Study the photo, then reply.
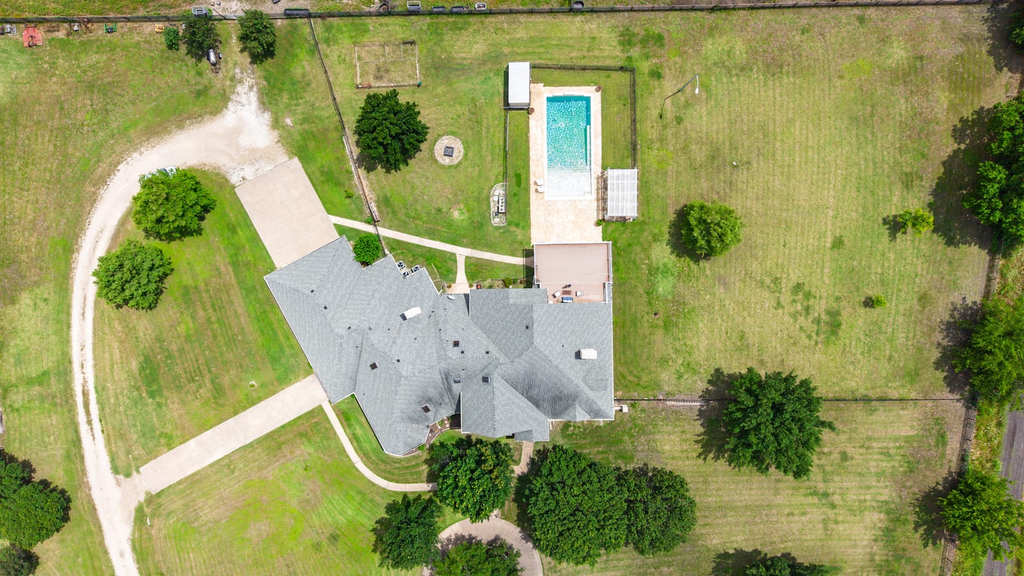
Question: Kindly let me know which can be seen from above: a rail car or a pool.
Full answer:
Looking from above, you can make out a pool.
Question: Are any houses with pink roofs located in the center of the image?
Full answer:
No, in the center of the image there is no house with a pink roof.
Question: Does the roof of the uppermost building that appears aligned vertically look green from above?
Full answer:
No, the roof of the uppermost building that appears aligned vertically is actually white.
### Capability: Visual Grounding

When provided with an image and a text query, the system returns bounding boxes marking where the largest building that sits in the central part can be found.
[264,234,614,456]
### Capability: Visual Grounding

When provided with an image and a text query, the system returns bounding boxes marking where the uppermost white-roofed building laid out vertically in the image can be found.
[505,61,530,112]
